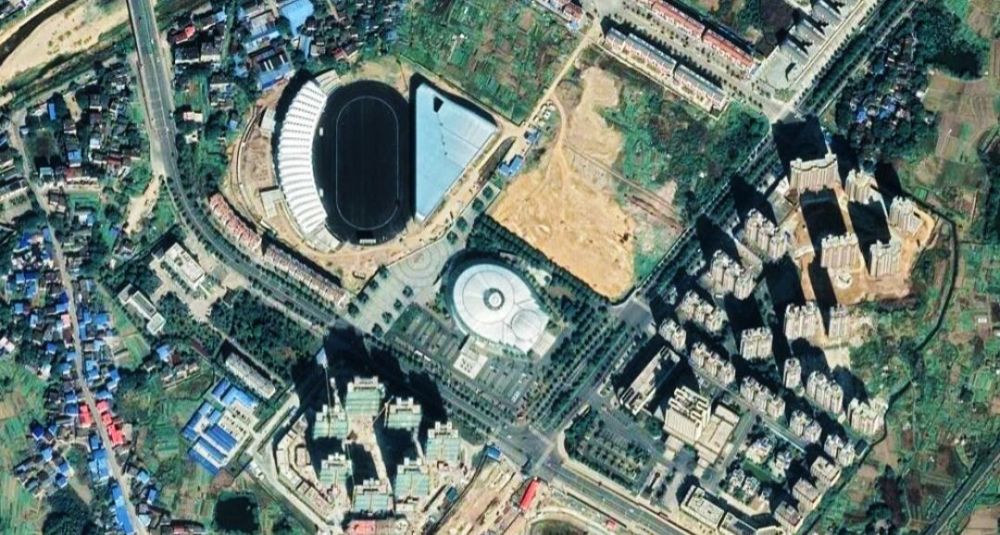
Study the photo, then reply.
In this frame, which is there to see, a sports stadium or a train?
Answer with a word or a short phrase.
sports stadium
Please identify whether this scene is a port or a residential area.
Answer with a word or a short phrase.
residential area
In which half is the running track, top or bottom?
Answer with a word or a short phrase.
top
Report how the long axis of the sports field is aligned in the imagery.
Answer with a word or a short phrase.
from top to bottom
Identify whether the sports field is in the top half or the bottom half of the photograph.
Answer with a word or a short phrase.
top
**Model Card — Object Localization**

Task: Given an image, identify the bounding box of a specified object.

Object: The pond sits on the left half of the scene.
[214,496,259,535]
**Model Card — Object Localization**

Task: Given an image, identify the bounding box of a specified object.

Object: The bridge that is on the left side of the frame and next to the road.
[127,0,162,59]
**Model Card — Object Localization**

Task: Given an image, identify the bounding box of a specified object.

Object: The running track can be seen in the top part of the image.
[314,80,412,244]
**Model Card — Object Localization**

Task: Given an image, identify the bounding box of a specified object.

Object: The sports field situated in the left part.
[338,98,396,229]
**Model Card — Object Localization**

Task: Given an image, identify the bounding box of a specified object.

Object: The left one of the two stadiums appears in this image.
[278,71,412,254]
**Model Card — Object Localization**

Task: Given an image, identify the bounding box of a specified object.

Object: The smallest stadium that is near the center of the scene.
[445,256,550,354]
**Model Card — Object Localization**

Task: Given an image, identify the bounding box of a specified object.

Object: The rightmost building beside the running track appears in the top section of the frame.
[416,83,498,227]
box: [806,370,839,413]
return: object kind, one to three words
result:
building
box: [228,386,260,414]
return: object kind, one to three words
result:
shed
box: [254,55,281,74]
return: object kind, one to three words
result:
house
